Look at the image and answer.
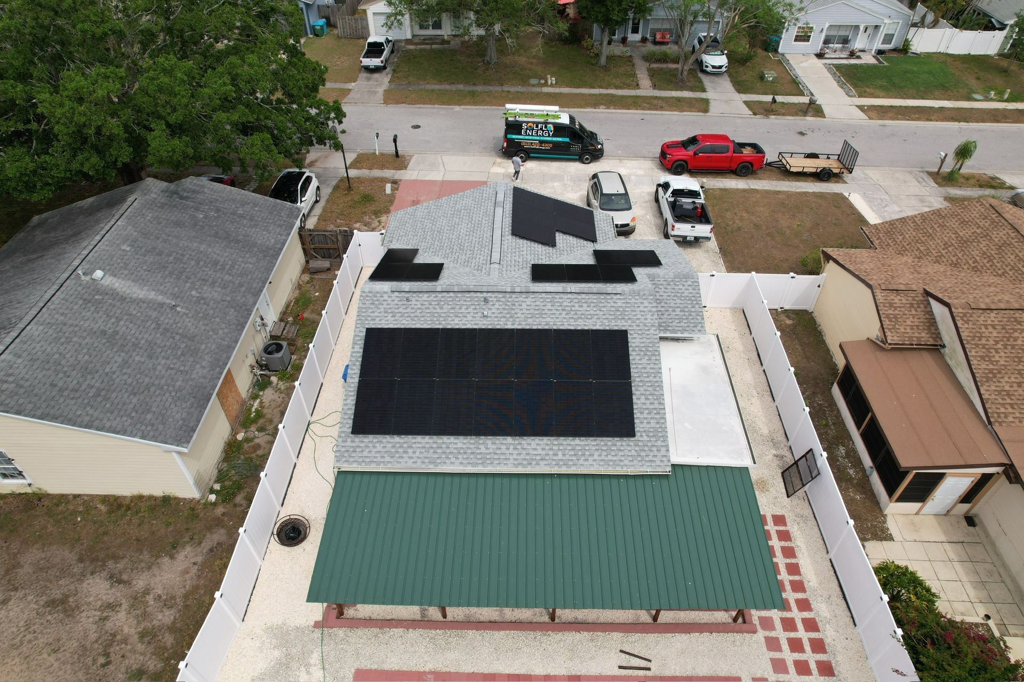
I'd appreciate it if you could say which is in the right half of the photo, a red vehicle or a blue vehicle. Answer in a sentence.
You can see a red vehicle in the right half of the photo.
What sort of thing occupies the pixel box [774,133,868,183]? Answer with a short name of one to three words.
trailer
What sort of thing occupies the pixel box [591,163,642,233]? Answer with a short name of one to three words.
car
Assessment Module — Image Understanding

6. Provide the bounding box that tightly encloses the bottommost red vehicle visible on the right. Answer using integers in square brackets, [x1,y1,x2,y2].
[658,128,776,176]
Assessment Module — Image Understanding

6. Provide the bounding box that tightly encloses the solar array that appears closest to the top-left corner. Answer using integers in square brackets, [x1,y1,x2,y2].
[368,249,444,280]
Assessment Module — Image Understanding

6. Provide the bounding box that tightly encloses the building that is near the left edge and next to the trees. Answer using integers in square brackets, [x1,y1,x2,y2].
[0,176,303,492]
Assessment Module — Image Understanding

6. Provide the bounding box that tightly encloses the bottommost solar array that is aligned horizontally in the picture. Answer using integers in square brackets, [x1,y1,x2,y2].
[352,327,634,437]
